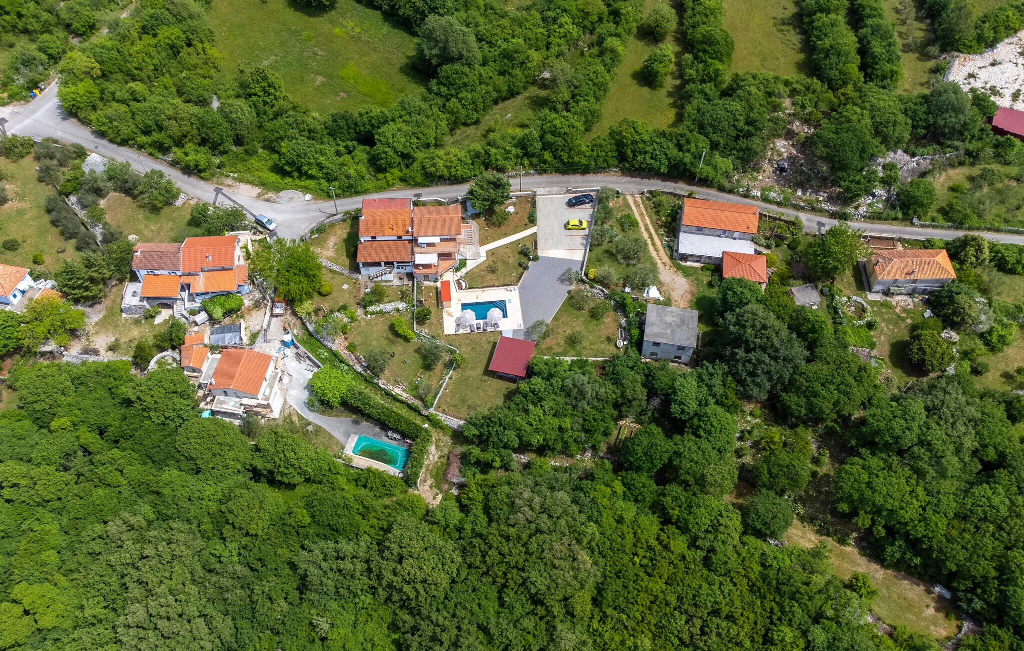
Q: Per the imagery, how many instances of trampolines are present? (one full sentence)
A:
The count of trampolines is 0.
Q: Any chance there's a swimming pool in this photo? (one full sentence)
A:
Yes, a swimming pool is visible in the scene.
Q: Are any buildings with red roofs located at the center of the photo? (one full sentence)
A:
Yes, a building with a red roof appears at the center of the photo.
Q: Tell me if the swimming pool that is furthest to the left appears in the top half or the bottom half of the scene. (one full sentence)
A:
You can find the swimming pool that is furthest to the left in the bottom half.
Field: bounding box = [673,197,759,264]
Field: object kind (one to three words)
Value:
house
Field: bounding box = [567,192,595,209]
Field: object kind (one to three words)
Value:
car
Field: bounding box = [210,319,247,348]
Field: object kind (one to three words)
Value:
shed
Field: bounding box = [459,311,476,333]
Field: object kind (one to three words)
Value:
umbrella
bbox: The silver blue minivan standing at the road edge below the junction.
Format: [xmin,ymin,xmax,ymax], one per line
[251,212,277,233]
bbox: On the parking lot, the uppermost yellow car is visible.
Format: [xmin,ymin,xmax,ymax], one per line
[565,218,588,231]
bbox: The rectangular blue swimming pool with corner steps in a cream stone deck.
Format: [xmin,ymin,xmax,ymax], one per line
[441,270,523,335]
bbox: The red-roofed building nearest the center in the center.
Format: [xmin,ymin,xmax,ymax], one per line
[489,336,536,382]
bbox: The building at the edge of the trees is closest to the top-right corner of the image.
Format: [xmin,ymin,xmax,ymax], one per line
[988,107,1024,147]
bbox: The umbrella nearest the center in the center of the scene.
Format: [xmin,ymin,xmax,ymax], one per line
[487,309,503,331]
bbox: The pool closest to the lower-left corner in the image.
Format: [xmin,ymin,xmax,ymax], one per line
[343,433,414,479]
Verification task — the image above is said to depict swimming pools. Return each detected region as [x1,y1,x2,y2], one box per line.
[343,433,414,479]
[441,270,523,335]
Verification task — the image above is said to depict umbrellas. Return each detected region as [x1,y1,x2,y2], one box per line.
[459,311,476,333]
[487,309,503,331]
